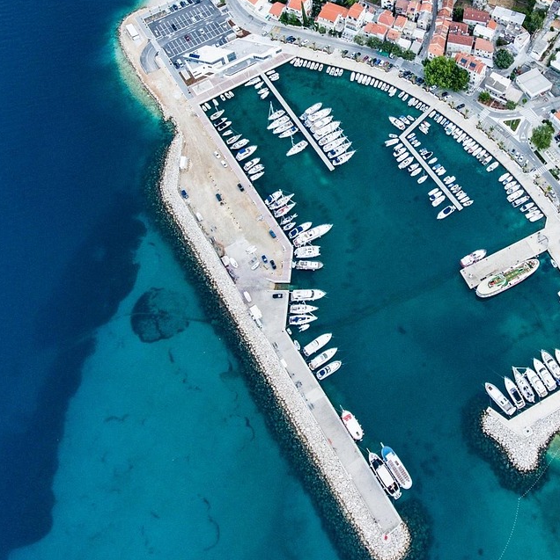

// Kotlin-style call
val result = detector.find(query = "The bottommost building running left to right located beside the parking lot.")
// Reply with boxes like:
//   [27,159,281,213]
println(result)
[183,40,283,83]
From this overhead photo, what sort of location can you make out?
port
